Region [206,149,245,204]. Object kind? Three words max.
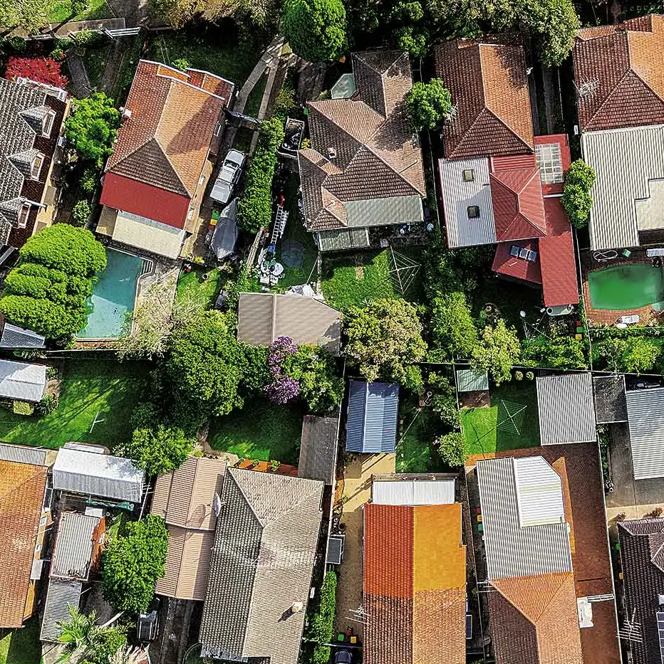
truck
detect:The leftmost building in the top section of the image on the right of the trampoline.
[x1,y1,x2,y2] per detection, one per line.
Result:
[297,52,425,254]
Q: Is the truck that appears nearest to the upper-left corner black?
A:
No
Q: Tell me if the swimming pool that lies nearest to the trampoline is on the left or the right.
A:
left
